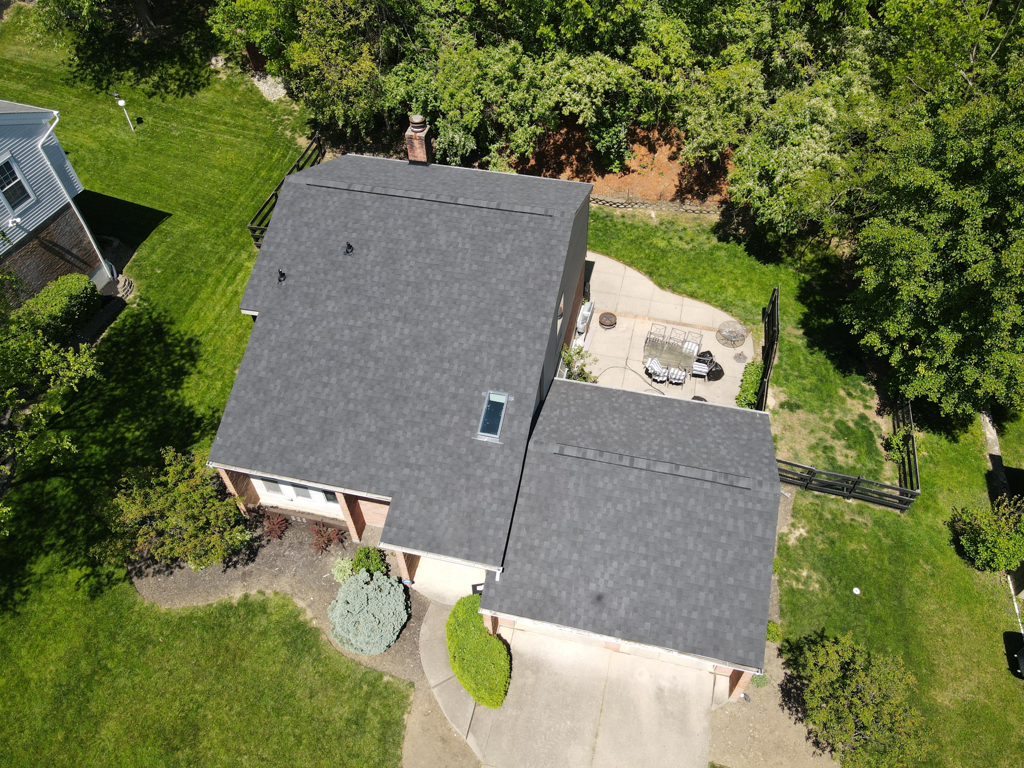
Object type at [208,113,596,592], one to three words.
house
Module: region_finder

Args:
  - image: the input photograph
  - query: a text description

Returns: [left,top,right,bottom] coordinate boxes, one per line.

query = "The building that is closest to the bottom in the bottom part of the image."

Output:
[476,375,783,702]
